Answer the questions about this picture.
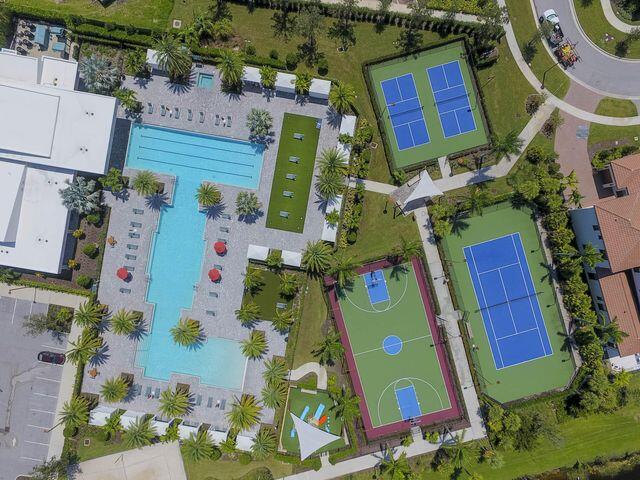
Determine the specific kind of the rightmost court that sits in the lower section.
tennis court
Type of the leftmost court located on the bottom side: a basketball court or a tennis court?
basketball court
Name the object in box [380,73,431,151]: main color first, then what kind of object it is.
blue sports court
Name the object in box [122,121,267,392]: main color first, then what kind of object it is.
blue swimming pool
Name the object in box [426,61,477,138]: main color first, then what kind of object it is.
blue sports court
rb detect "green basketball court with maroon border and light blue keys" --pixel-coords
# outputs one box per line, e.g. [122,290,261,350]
[322,255,461,441]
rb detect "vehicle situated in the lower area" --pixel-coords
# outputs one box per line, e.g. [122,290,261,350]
[36,351,63,366]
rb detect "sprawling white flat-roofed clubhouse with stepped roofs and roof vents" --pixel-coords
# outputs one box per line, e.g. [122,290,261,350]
[0,48,118,274]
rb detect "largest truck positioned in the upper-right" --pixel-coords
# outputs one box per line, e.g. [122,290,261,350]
[546,7,569,42]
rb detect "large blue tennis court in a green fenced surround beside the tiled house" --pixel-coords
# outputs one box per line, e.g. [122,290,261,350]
[444,204,576,405]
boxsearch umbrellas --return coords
[209,268,221,280]
[117,267,130,279]
[214,241,226,254]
